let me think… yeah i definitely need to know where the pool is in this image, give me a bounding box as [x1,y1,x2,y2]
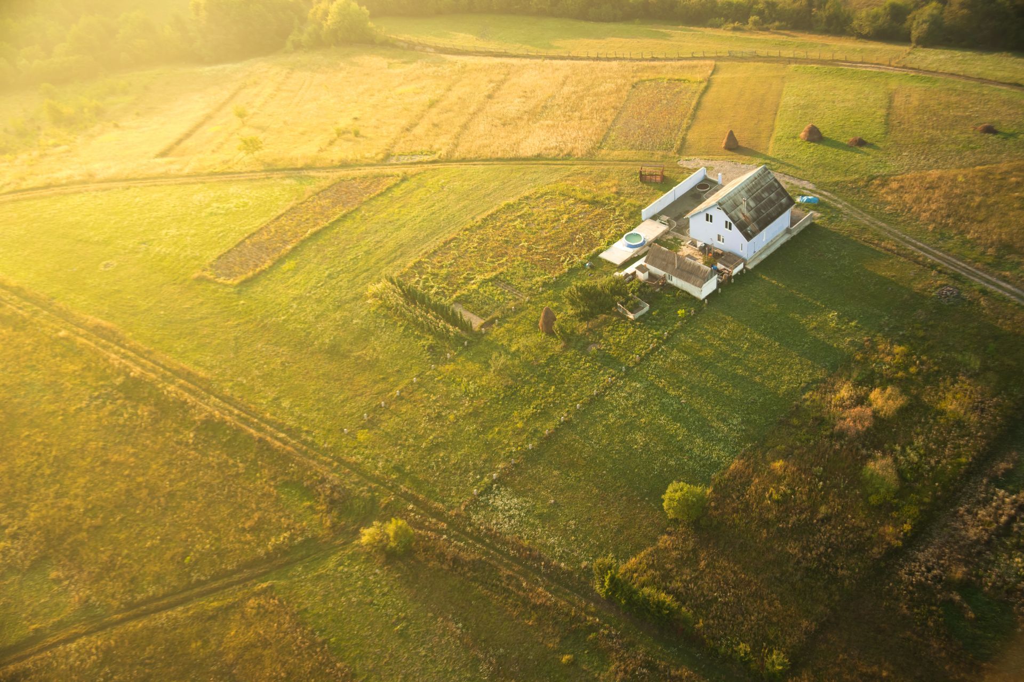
[619,232,646,251]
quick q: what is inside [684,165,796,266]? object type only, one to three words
house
